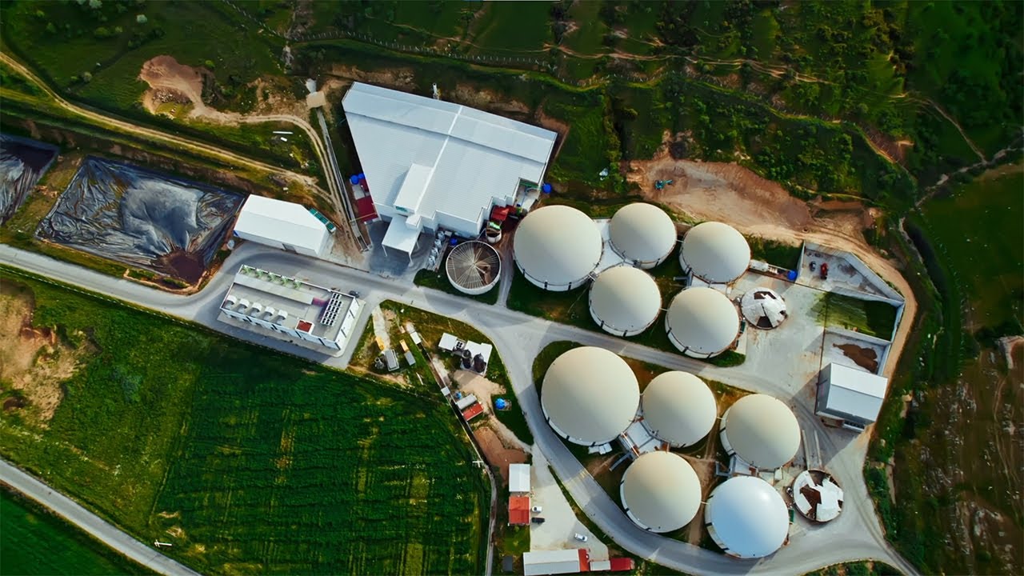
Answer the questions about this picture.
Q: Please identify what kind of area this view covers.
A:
industrial area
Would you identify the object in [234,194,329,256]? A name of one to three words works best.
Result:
shed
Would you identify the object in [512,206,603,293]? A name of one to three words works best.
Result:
storage tank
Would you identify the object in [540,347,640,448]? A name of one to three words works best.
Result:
storage tank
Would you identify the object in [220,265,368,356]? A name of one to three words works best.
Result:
building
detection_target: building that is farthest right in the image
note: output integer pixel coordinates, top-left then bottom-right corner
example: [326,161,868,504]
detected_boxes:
[817,363,884,434]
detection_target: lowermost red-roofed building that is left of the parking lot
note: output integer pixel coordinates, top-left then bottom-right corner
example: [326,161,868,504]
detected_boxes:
[509,497,529,524]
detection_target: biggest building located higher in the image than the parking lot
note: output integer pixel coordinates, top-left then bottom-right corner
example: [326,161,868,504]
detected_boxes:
[342,81,557,235]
